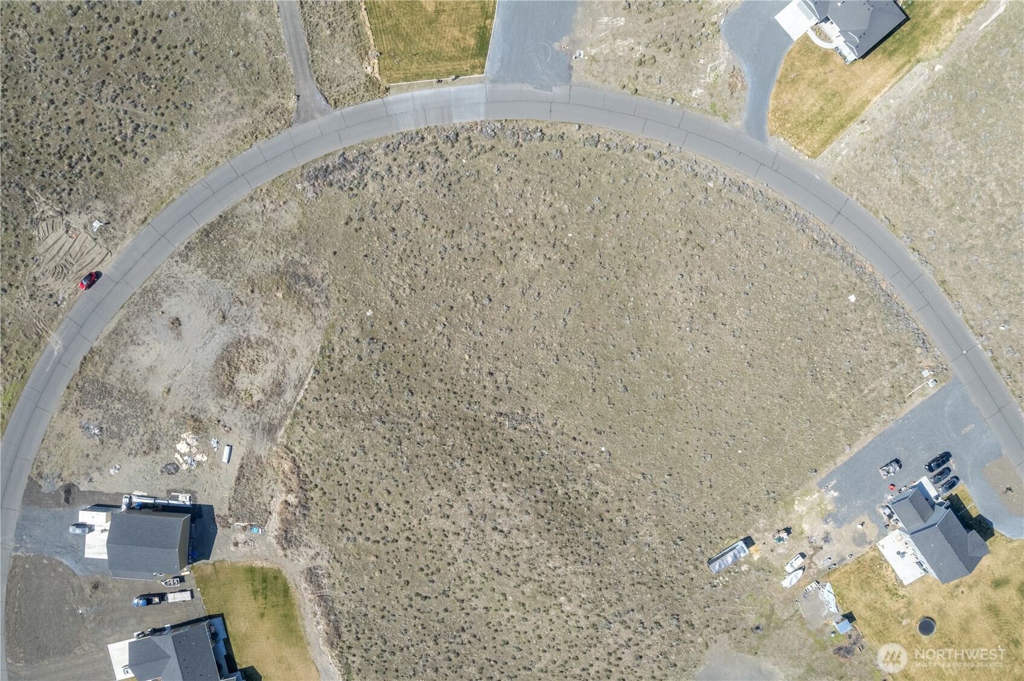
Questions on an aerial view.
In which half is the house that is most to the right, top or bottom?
bottom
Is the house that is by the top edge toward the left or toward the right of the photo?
right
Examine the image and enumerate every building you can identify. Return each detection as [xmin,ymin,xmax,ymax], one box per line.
[792,0,907,61]
[886,487,990,585]
[128,621,243,681]
[106,509,194,581]
[832,614,851,632]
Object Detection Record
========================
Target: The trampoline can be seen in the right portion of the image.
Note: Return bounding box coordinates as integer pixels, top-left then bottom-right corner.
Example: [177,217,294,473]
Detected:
[918,618,937,635]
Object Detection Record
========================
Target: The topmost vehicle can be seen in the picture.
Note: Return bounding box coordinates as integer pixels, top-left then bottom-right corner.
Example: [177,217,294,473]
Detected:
[79,269,98,290]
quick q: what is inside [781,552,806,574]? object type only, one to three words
camper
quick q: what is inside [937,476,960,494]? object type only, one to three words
car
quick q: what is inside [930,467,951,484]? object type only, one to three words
car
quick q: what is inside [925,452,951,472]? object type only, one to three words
vehicle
